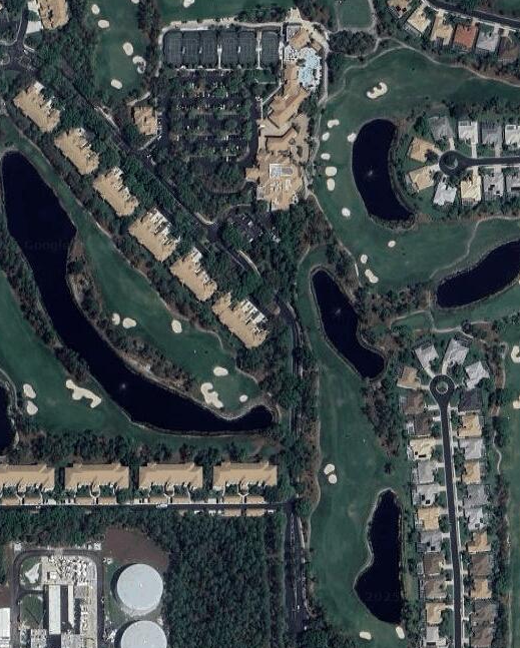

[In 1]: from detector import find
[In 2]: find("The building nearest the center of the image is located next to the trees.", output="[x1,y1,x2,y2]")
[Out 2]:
[211,291,273,351]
